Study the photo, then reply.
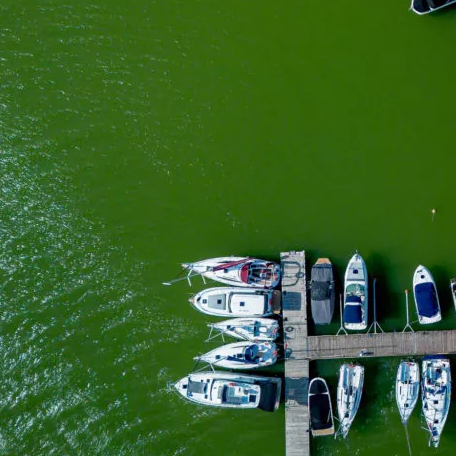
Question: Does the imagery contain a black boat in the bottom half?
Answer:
Yes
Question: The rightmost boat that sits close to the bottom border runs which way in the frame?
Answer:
vertically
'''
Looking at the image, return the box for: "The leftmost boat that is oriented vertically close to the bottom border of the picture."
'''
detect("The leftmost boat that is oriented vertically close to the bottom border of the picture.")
[309,376,334,436]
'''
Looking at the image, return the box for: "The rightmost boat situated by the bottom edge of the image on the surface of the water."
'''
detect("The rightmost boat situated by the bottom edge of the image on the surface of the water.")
[421,357,451,448]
